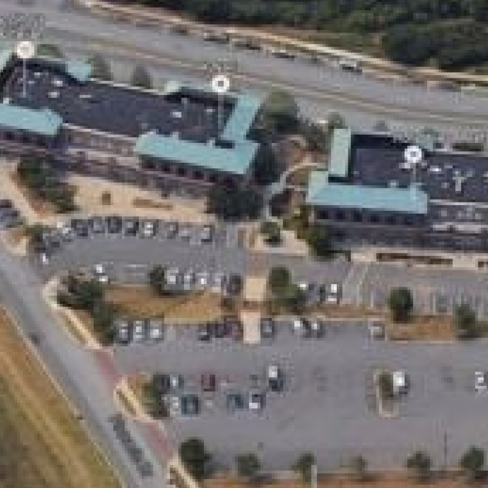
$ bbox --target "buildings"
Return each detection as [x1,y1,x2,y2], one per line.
[308,127,488,256]
[0,50,270,201]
